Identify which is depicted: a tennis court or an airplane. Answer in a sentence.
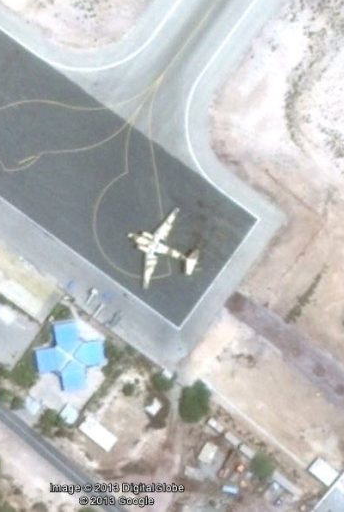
The one in the frame is an airplane.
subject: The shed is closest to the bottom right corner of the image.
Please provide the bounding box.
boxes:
[309,457,340,487]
